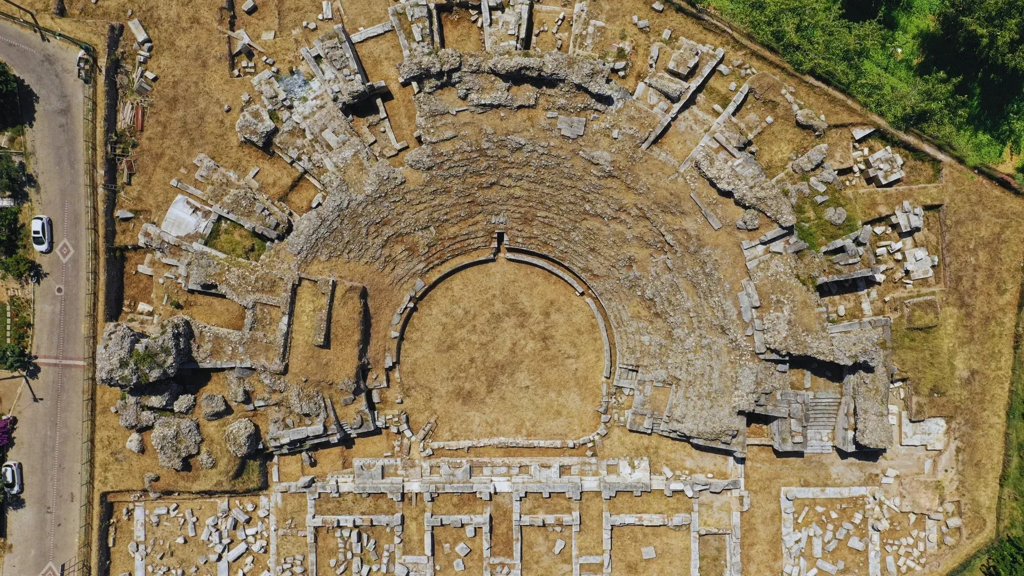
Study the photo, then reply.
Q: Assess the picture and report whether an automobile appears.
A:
Yes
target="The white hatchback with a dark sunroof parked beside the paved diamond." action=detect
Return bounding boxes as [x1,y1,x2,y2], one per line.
[27,215,51,254]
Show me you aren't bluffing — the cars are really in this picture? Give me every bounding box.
[0,460,22,496]
[27,215,51,254]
